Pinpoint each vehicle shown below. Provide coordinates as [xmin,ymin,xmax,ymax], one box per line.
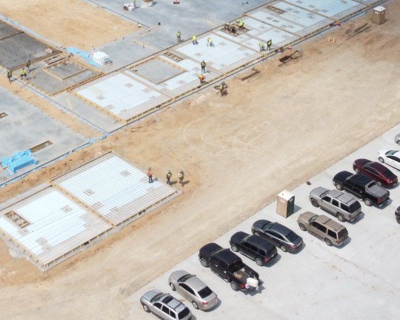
[247,215,305,253]
[196,242,266,292]
[305,186,365,223]
[331,169,394,207]
[225,229,284,268]
[347,156,400,187]
[293,209,352,247]
[372,146,400,168]
[138,286,195,320]
[164,266,222,310]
